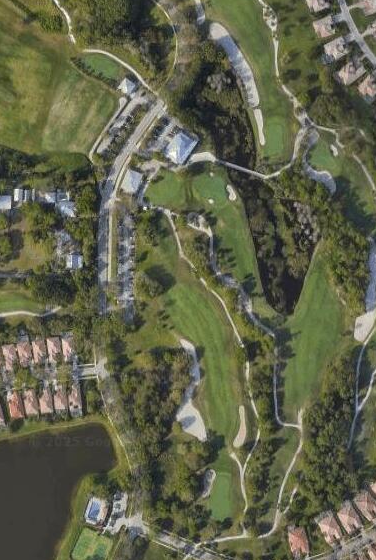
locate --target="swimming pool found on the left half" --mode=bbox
[86,496,108,526]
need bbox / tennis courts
[73,529,111,560]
